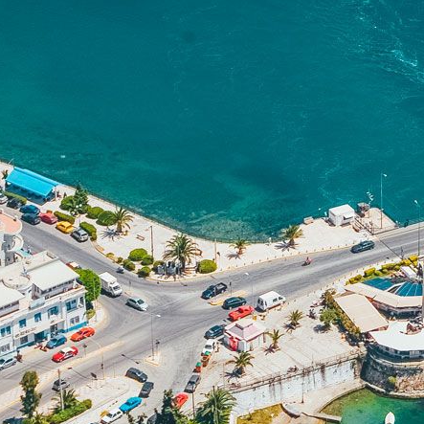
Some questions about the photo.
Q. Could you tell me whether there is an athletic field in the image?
No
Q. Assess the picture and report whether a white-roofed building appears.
Yes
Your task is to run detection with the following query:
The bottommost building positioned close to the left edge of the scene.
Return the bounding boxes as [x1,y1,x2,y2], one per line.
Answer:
[0,249,91,356]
